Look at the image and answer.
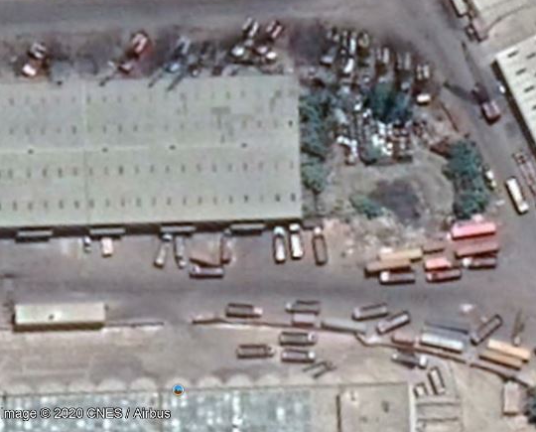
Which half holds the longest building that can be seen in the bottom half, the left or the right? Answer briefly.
left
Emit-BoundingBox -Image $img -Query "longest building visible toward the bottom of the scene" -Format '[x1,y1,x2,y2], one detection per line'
[14,302,103,325]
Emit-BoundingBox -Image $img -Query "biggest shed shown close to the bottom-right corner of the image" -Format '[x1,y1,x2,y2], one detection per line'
[502,382,519,413]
